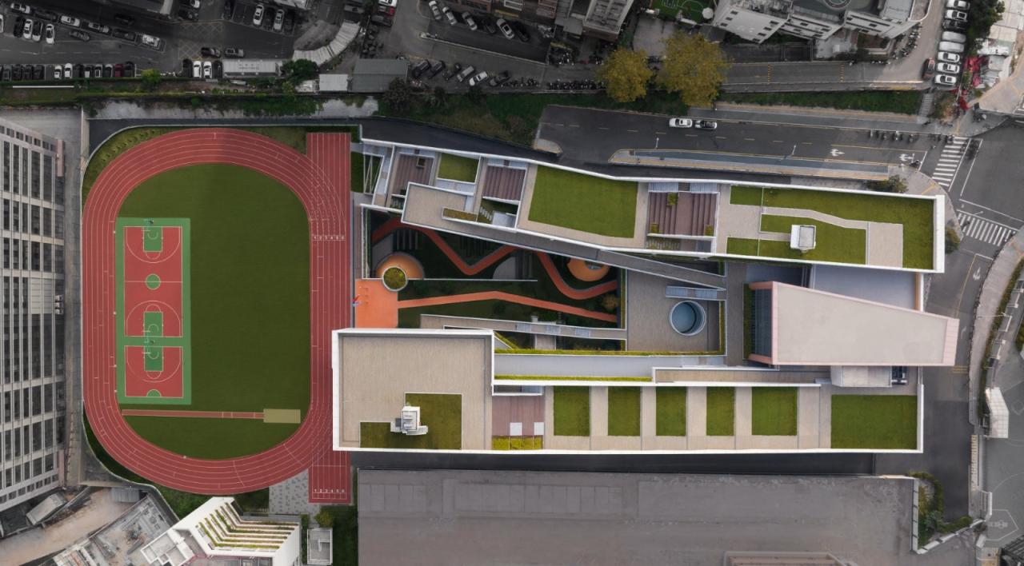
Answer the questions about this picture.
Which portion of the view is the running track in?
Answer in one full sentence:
The running track is in the left part of the image.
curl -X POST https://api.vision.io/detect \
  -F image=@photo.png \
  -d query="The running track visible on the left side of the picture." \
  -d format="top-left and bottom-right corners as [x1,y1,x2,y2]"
[83,129,351,505]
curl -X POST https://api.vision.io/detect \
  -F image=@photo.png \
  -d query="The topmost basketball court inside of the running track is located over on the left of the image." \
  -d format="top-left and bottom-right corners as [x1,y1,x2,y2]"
[117,218,191,342]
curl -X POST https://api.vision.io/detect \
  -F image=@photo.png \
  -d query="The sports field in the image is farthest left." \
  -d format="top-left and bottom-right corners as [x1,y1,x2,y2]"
[116,163,311,460]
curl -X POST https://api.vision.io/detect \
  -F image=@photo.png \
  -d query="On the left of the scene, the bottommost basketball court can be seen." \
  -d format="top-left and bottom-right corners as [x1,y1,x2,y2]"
[117,342,191,404]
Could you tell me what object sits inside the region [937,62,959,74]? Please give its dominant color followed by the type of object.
white vehicle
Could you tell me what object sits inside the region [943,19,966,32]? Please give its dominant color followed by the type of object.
black vehicle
